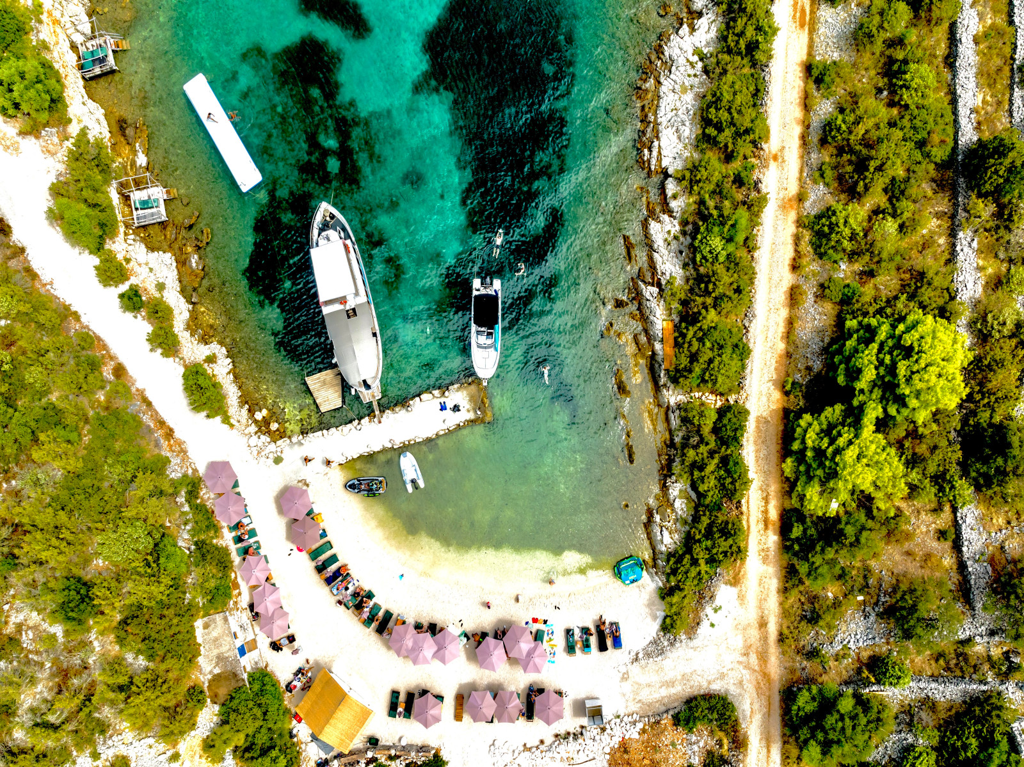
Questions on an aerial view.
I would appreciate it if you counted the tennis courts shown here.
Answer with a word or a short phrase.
0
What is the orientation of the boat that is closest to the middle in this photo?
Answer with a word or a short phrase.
up and down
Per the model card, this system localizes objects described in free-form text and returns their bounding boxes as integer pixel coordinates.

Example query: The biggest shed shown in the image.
[295,667,373,755]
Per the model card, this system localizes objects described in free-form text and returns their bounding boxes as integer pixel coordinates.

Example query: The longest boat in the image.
[310,202,383,403]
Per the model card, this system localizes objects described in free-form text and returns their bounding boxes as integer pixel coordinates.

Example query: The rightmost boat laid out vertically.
[469,275,501,386]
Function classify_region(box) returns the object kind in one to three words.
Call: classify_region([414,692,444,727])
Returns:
umbrella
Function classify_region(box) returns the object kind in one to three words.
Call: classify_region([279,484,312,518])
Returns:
umbrella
